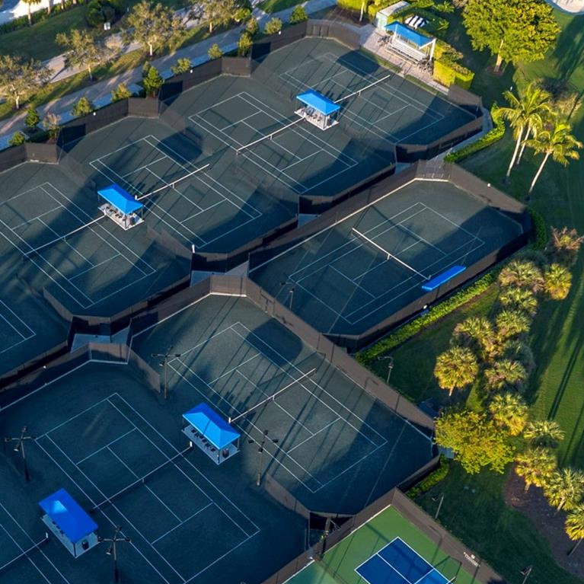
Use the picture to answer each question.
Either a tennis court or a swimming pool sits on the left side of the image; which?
tennis court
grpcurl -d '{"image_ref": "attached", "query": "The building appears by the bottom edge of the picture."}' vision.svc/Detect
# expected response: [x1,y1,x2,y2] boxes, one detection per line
[37,486,101,558]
